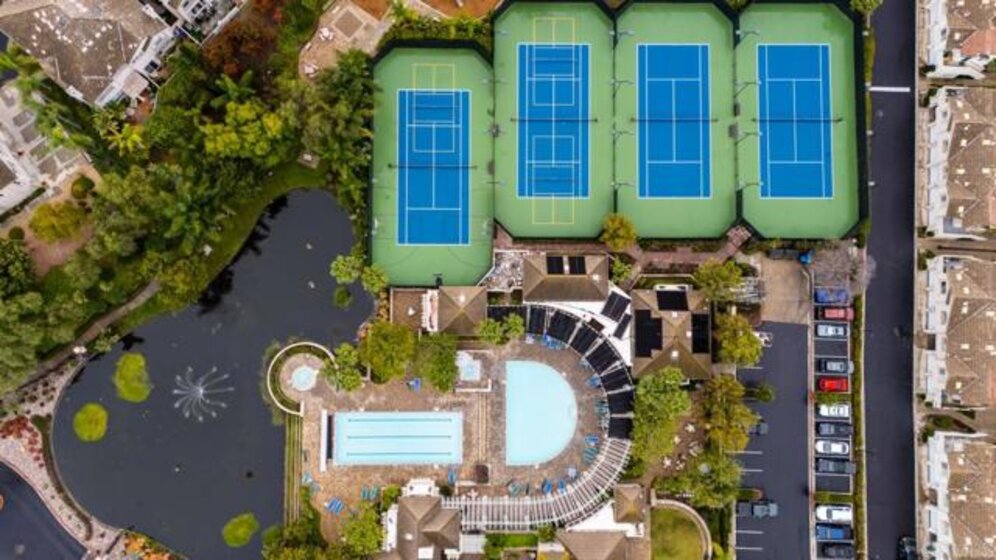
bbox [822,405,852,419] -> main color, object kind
white vehicle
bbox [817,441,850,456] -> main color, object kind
white car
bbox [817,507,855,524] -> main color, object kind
white vehicle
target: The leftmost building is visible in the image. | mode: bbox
[0,152,34,217]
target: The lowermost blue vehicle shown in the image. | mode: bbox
[816,526,856,543]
